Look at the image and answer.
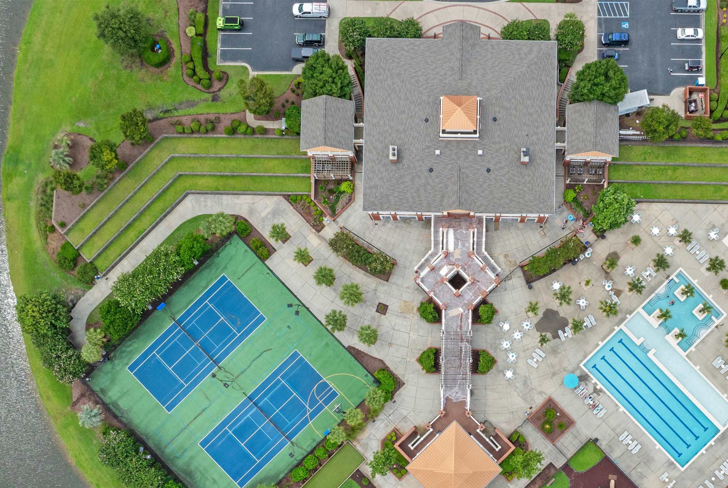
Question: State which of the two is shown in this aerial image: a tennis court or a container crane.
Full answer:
The one in the frame is a tennis court.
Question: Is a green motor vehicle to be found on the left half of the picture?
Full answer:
Yes, on the left half of the picture there is a green motor vehicle.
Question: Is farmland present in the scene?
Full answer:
No, farmland can't be seen anywhere here.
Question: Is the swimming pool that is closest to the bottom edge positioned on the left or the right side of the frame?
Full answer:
The swimming pool that is closest to the bottom edge appears in the right half of the scene.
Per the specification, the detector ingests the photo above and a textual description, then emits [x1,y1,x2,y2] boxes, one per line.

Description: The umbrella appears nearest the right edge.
[564,374,578,389]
